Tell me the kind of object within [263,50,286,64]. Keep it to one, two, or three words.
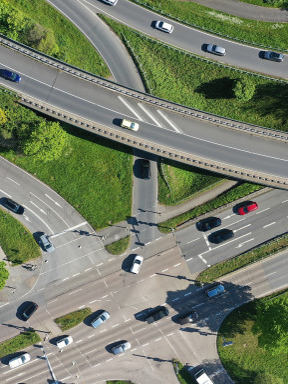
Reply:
vehicle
